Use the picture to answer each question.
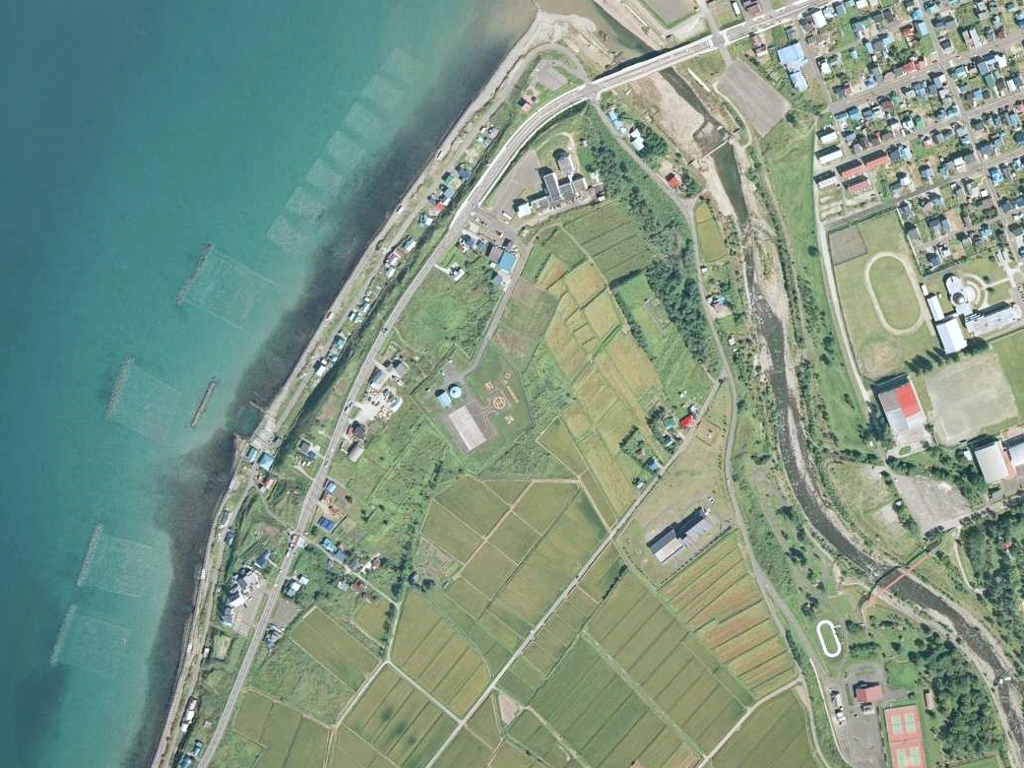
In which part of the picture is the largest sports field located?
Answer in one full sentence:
The largest sports field is located in the right region of the scene.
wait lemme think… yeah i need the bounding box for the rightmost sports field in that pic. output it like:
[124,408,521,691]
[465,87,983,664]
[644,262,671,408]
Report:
[925,354,1018,445]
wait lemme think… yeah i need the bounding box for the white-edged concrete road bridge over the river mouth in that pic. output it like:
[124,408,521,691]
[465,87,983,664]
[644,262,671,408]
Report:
[587,35,719,98]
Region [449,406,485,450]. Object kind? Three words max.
sports court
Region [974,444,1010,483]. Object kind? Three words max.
building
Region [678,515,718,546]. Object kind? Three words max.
shed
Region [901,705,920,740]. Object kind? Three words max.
tennis court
